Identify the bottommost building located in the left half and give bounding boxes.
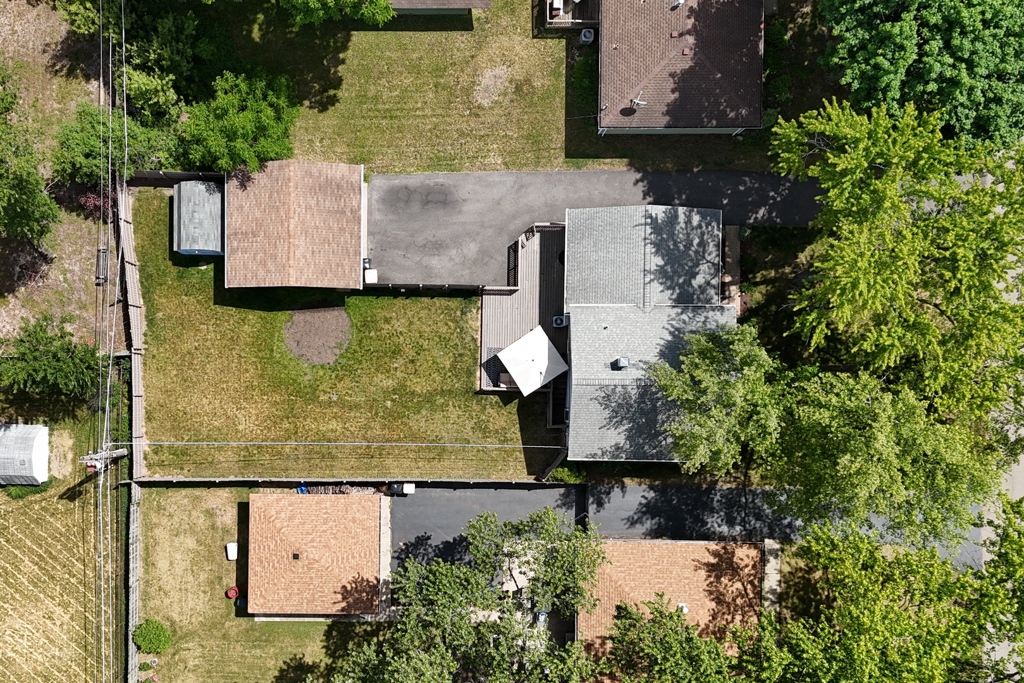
[249,491,383,614]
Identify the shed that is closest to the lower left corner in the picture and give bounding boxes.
[0,425,49,484]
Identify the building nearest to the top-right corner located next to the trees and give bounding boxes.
[592,0,764,134]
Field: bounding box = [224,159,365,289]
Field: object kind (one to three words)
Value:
building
